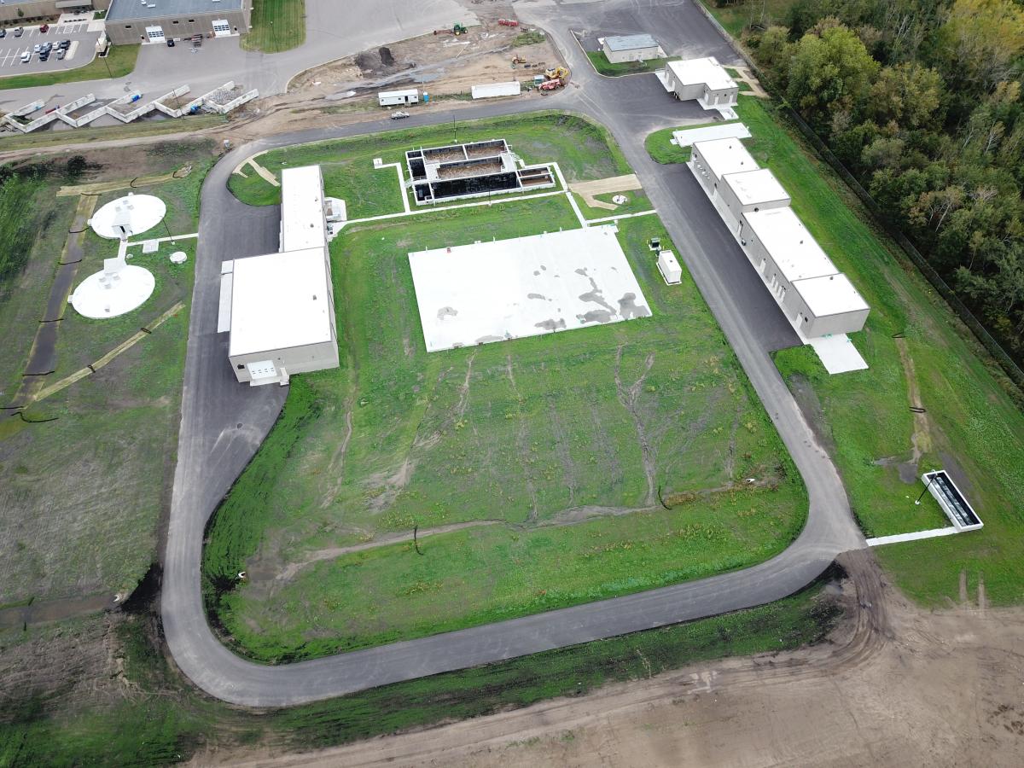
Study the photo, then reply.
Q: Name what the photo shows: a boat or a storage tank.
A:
storage tank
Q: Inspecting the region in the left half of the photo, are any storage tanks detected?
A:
Yes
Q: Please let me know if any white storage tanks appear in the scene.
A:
Yes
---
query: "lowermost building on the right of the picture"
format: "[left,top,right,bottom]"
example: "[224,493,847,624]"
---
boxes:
[690,137,870,337]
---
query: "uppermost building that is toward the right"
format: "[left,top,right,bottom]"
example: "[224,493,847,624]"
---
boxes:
[603,32,660,63]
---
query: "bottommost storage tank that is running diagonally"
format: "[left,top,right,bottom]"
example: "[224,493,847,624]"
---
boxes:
[921,469,982,534]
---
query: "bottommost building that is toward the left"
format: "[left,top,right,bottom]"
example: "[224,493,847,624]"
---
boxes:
[217,165,339,387]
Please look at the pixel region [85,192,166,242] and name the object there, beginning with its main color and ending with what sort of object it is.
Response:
white storage tank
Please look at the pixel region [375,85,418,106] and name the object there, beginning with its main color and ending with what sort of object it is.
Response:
white trailer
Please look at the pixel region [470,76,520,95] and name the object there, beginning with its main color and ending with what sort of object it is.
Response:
white trailer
